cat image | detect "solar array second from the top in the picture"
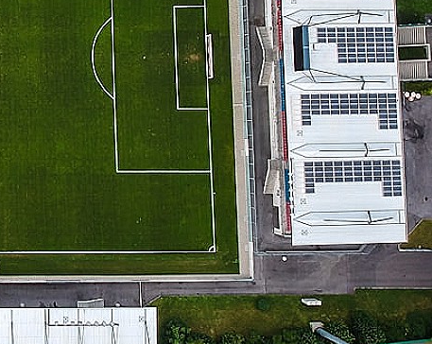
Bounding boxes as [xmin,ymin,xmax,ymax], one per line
[300,92,394,128]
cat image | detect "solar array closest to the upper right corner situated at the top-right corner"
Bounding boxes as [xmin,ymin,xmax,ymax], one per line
[317,27,392,62]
